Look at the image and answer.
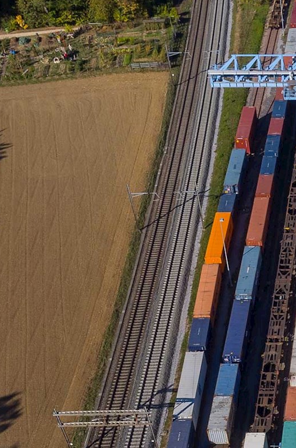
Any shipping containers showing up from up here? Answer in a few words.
Yes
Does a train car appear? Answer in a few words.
Yes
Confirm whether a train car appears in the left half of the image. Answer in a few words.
No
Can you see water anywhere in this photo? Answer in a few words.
No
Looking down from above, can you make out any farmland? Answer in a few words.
Yes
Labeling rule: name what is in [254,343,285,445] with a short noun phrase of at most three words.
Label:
rail car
